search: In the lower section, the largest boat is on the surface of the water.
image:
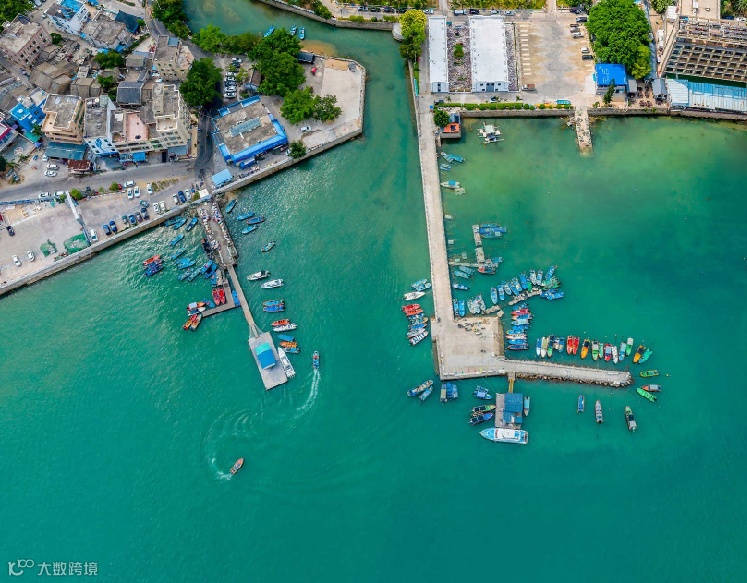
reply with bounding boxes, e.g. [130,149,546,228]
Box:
[479,428,528,446]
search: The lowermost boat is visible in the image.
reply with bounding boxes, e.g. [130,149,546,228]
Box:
[229,458,244,474]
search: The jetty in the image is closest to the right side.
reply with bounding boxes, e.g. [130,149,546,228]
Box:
[575,112,593,157]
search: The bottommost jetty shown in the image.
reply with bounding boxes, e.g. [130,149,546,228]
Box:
[494,393,523,430]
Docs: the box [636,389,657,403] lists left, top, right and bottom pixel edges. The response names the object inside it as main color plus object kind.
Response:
green boat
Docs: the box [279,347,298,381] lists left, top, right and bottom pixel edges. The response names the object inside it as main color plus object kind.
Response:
white vessel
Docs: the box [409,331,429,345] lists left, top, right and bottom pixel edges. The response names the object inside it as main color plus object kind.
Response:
white boat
